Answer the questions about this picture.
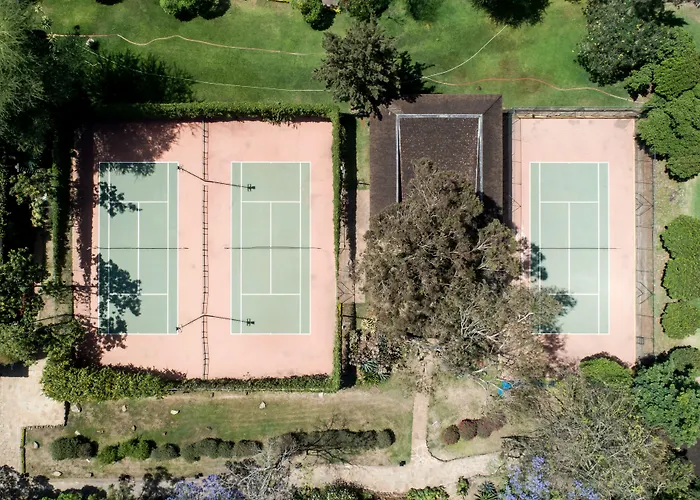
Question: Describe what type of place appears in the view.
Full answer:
This image shows a sports ground.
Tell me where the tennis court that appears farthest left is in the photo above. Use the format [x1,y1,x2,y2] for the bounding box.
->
[72,119,206,379]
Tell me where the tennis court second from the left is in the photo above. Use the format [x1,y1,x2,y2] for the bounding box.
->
[206,119,336,379]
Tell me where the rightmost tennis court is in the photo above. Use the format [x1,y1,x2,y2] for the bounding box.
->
[512,118,636,364]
